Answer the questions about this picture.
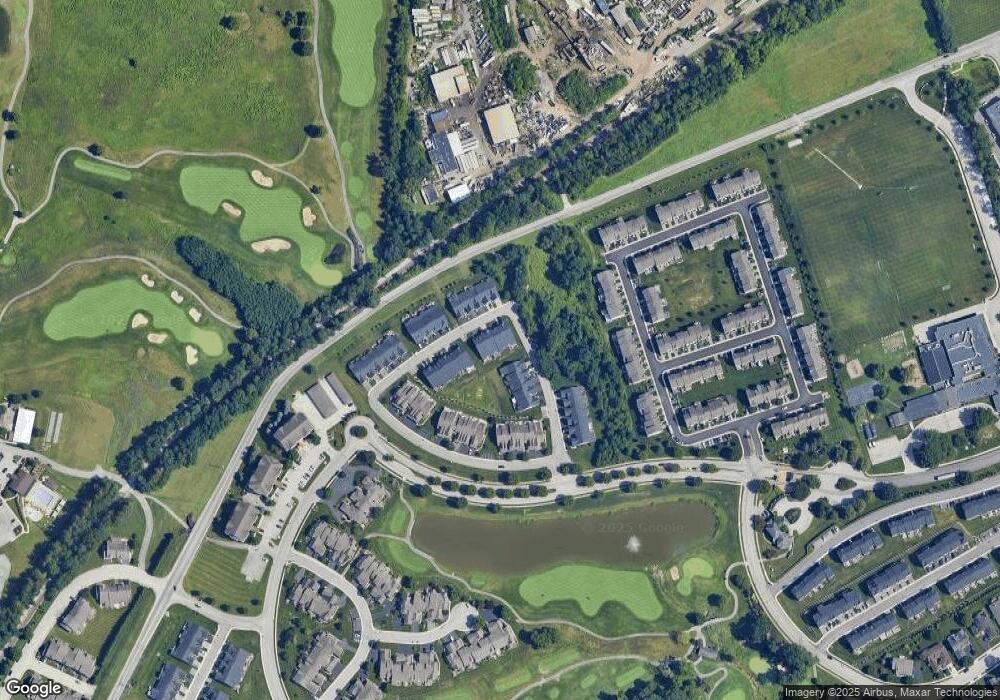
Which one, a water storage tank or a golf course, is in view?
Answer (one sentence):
Visible in the photo is a golf course.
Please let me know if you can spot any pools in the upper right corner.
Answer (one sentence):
No, in the upper right corner there is no pool.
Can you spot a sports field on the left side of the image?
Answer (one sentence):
No, no sports field is visible on the left side of the image.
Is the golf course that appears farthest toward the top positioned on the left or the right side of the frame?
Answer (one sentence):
You can find the golf course that appears farthest toward the top on the left side of the picture.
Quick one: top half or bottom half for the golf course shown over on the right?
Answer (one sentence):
It is in the bottom half that the golf course shown over on the right appears.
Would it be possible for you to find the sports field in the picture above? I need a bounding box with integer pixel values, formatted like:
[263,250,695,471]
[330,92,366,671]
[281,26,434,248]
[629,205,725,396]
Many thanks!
[782,105,987,349]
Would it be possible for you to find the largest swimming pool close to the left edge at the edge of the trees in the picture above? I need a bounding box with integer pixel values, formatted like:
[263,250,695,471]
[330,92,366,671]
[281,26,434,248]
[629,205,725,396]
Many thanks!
[25,480,63,516]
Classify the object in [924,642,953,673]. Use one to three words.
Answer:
house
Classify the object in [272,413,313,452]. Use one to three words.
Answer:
building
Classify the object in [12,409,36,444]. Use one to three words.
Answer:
barn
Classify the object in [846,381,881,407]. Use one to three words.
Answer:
basketball court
